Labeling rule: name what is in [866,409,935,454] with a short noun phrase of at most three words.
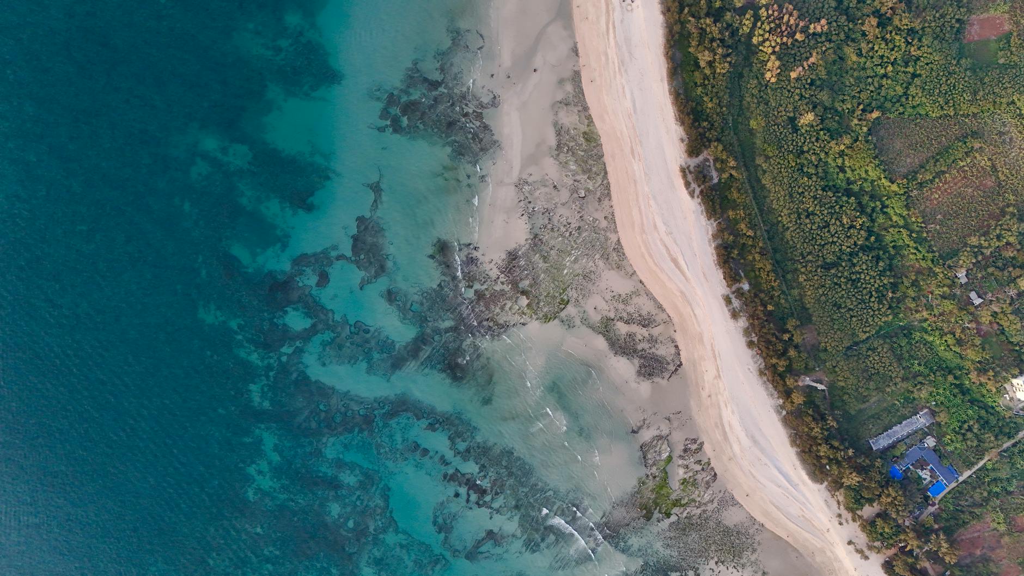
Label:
house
